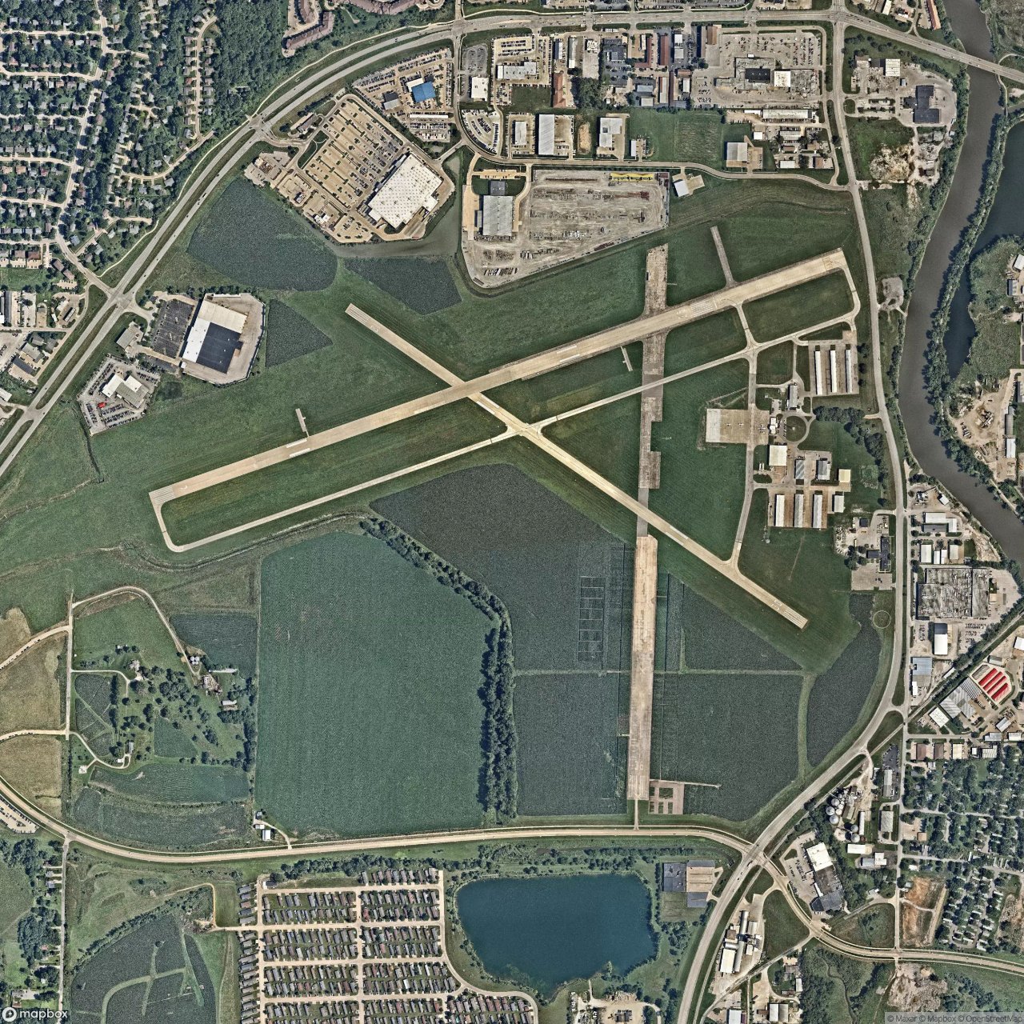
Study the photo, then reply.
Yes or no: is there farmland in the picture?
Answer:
Yes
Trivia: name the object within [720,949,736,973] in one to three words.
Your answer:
shed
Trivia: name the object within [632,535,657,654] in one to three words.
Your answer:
runway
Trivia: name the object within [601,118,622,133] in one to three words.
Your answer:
building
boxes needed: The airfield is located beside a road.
[149,226,860,801]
